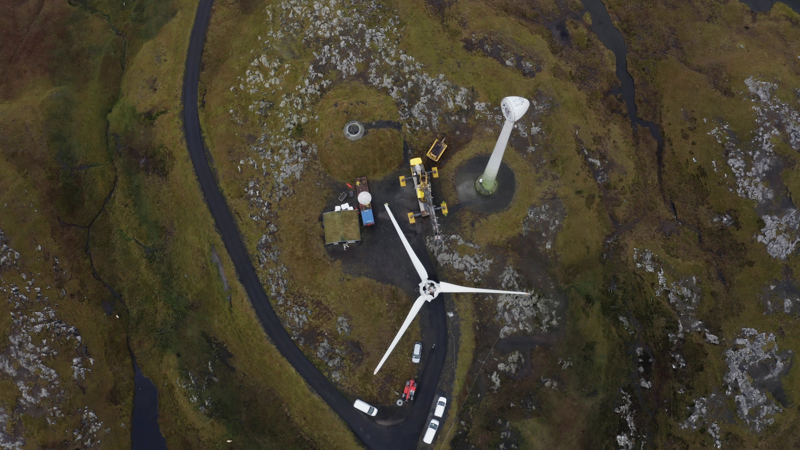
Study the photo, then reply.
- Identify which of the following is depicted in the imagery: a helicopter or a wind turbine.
wind turbine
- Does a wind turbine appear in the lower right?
No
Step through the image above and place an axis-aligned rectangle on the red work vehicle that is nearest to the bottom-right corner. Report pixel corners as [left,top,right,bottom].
[402,380,417,405]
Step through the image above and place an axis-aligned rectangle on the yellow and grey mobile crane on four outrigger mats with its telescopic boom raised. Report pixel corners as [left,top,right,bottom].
[399,157,448,245]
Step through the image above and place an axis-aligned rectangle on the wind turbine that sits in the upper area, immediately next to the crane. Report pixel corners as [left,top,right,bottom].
[476,96,532,196]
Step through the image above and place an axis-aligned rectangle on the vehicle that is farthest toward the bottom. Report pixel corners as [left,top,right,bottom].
[422,419,441,445]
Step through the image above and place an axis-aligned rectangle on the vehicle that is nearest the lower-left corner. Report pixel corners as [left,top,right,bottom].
[352,397,379,415]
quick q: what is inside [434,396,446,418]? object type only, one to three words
vehicle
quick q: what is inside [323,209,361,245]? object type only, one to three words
shed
